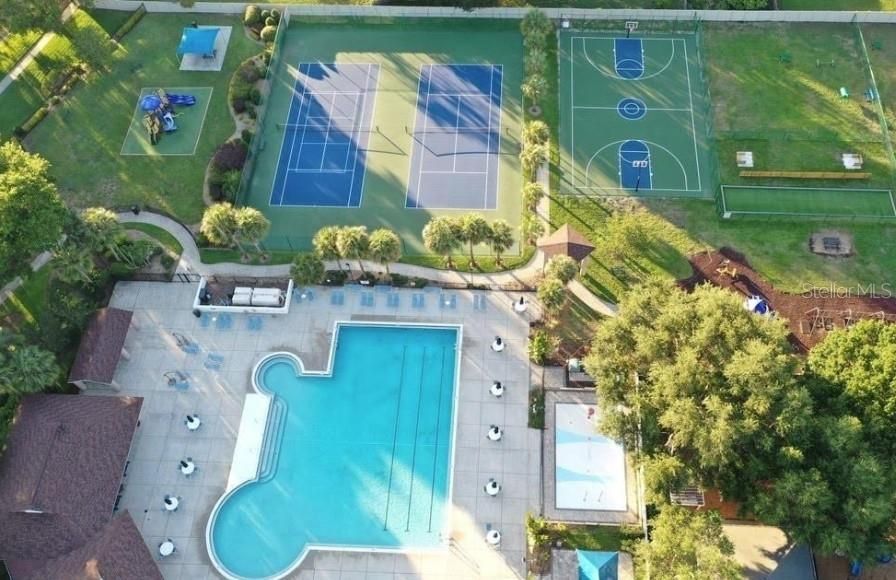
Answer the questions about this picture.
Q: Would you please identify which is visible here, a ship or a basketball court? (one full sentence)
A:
Looking from above, you can make out a basketball court.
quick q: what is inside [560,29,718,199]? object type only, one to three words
basketball court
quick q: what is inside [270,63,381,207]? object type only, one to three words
tennis court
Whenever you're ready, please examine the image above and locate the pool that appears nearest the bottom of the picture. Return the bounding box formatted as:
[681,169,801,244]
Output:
[206,318,464,580]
